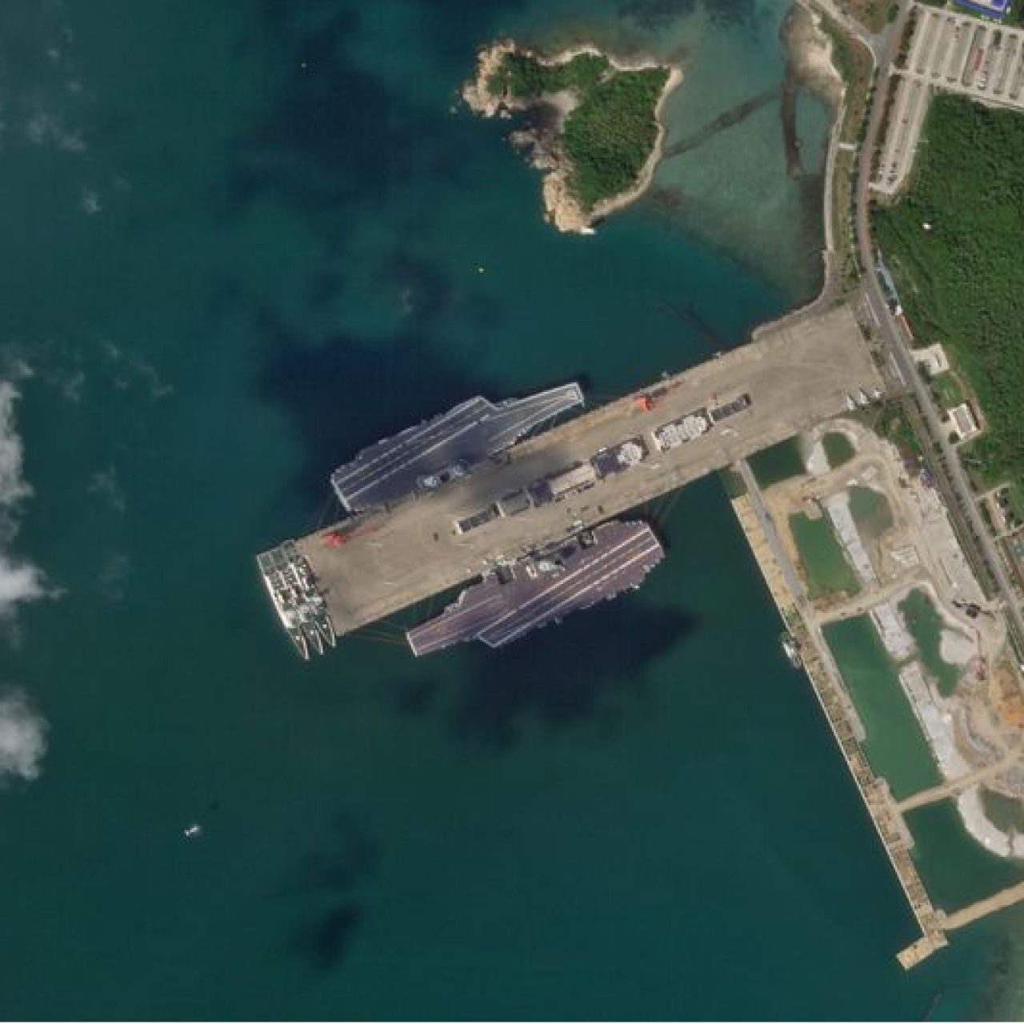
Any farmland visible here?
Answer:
No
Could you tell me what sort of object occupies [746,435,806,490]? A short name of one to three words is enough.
pond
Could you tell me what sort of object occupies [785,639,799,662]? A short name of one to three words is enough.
boat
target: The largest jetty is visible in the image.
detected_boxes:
[293,302,884,639]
